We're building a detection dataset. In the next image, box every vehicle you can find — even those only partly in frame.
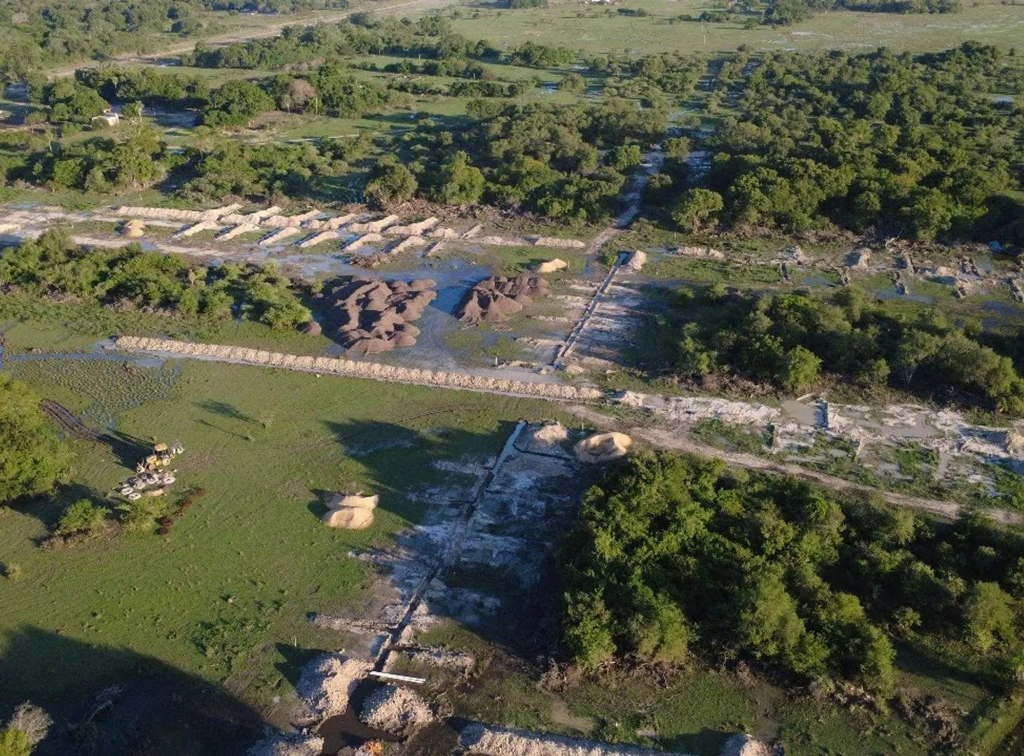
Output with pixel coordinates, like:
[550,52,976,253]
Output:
[135,444,184,474]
